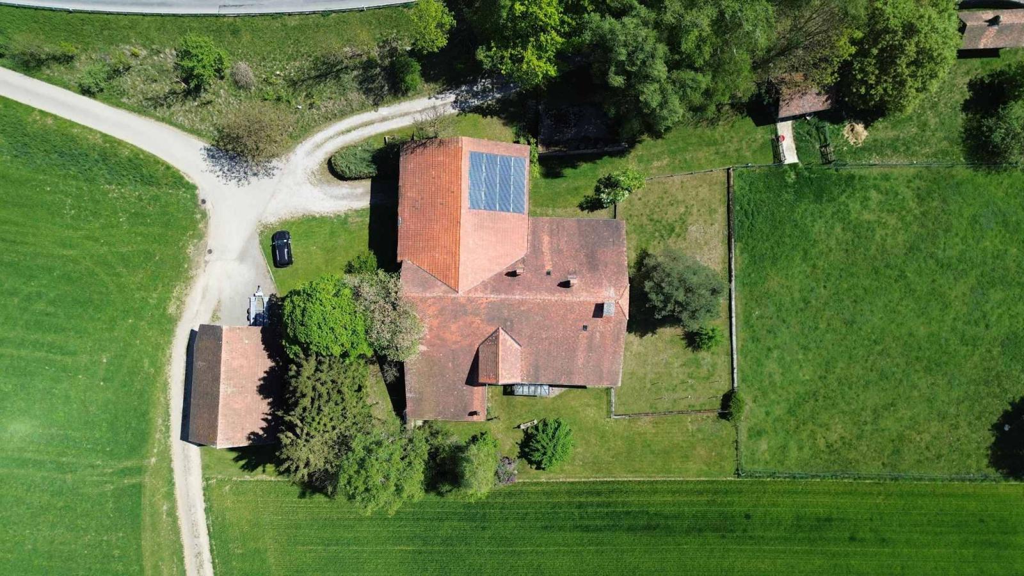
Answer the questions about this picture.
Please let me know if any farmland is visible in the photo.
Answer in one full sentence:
Yes, some farmland is visible.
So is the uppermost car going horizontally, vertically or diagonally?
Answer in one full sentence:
The uppermost car is laid out vertically.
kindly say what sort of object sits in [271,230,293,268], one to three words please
car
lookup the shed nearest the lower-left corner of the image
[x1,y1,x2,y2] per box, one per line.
[188,323,282,449]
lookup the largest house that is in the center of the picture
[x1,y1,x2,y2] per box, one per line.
[396,135,632,421]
